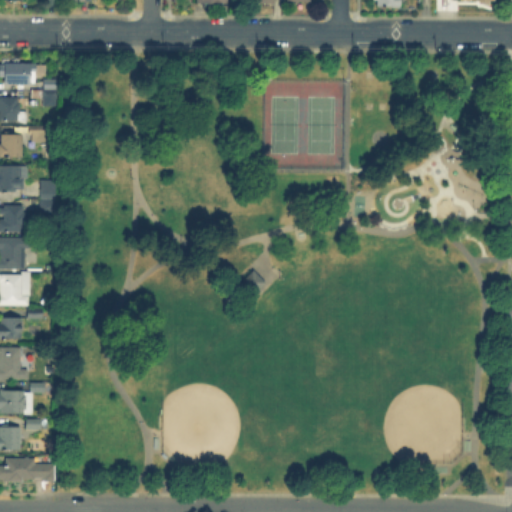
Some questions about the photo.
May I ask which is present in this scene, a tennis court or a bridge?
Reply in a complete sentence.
Of the two, only a tennis court appears.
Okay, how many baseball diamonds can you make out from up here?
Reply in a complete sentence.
The photo contains 2 baseball diamonds.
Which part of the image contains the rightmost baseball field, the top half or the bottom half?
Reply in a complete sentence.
You can find the rightmost baseball field in the bottom half.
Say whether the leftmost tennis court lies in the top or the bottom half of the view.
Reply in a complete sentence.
The leftmost tennis court sits in the top half of the picture.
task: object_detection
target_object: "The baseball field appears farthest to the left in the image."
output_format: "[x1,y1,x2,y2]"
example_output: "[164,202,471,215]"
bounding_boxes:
[164,384,241,470]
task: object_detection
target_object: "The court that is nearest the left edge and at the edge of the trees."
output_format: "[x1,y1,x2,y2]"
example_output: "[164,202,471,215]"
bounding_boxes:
[264,82,304,168]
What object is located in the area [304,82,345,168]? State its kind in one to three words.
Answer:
tennis court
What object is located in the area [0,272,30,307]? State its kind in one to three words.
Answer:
house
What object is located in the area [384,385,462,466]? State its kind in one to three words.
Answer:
baseball field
